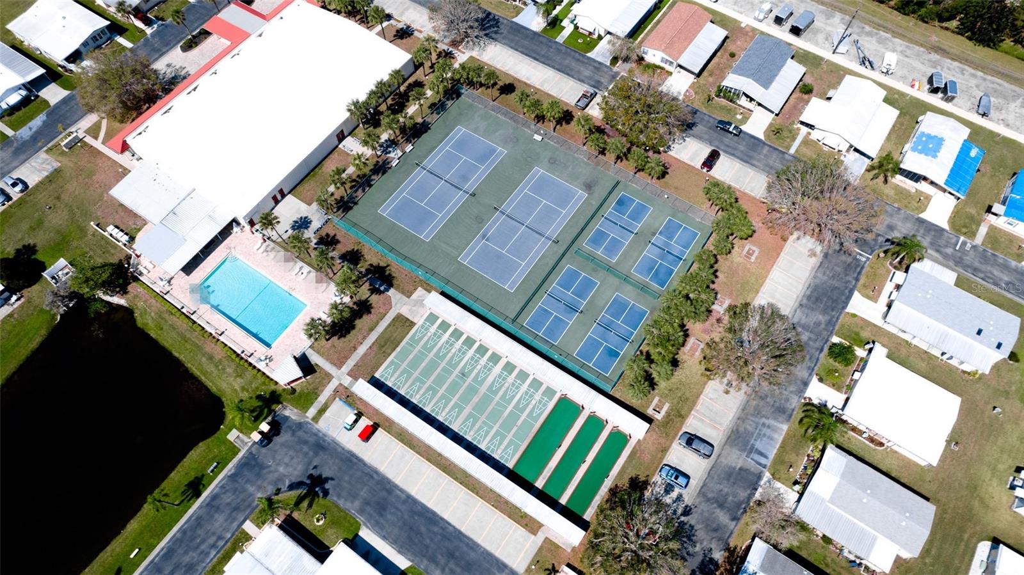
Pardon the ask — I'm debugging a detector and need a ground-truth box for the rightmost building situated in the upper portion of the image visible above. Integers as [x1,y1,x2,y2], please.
[984,170,1024,251]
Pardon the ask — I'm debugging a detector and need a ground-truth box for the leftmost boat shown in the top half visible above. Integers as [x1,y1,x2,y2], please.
[834,29,850,54]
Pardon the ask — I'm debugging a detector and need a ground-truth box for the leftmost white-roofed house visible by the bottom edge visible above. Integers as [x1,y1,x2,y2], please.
[225,523,322,575]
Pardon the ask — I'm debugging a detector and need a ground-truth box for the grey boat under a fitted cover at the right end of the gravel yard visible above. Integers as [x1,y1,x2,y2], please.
[976,92,992,117]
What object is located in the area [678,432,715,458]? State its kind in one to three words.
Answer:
car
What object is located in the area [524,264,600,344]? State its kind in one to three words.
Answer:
sports court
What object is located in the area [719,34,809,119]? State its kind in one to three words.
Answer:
house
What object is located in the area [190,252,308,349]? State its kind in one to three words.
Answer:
swimming pool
